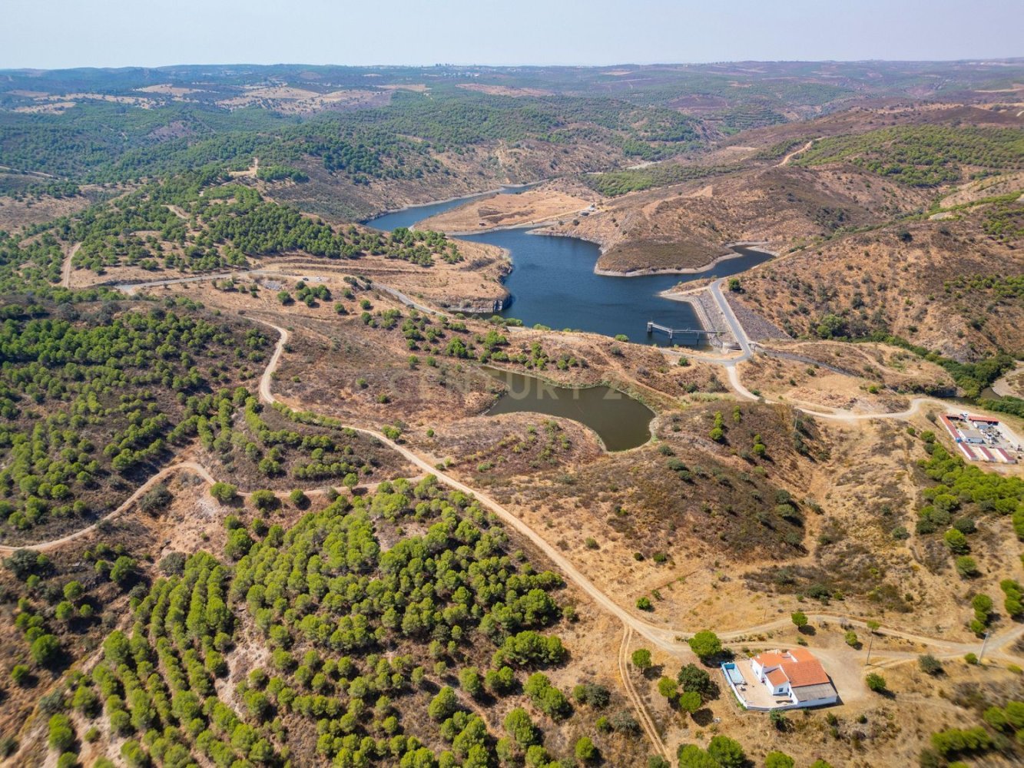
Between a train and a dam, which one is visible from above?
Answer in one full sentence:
This aerial view contains a dam.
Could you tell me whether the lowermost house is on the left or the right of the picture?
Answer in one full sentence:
You can find the lowermost house on the right side of the picture.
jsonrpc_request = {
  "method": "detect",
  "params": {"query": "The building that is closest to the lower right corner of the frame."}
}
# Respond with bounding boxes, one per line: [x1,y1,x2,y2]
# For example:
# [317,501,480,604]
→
[752,647,839,709]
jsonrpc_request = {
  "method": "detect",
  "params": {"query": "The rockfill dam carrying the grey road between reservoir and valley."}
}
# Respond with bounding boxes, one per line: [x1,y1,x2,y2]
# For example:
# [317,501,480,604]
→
[687,283,779,364]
